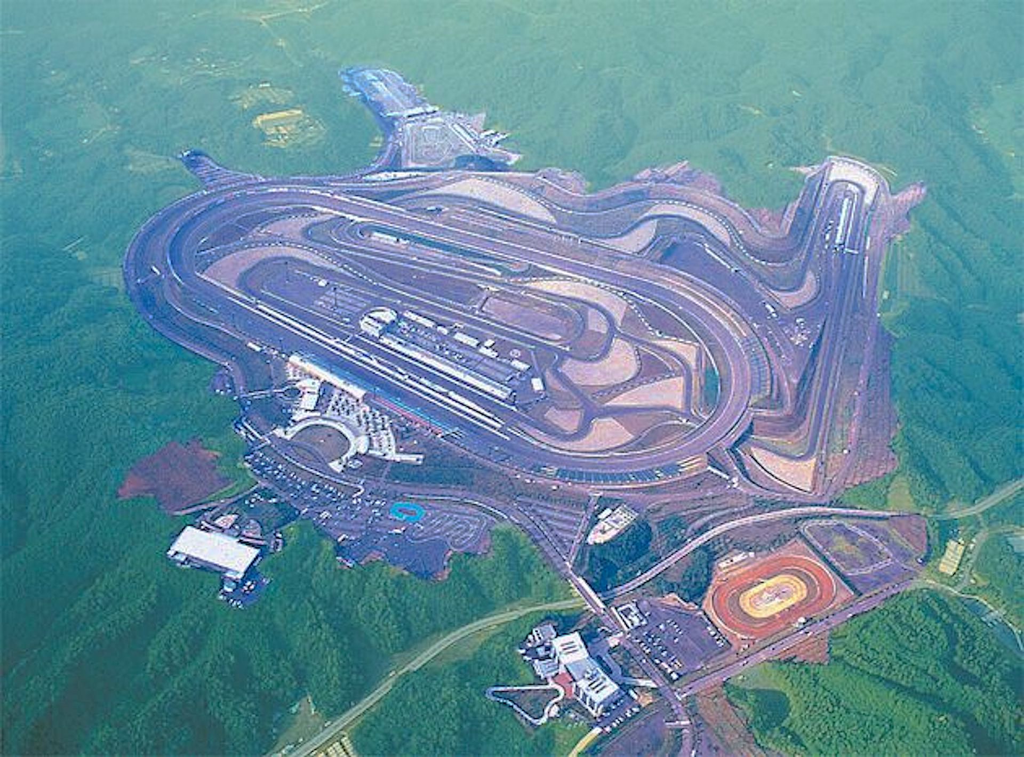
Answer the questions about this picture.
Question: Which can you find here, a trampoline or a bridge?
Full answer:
The image shows a bridge.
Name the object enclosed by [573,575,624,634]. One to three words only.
bridge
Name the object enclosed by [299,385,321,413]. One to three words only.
building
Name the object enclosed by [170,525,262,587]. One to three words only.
building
